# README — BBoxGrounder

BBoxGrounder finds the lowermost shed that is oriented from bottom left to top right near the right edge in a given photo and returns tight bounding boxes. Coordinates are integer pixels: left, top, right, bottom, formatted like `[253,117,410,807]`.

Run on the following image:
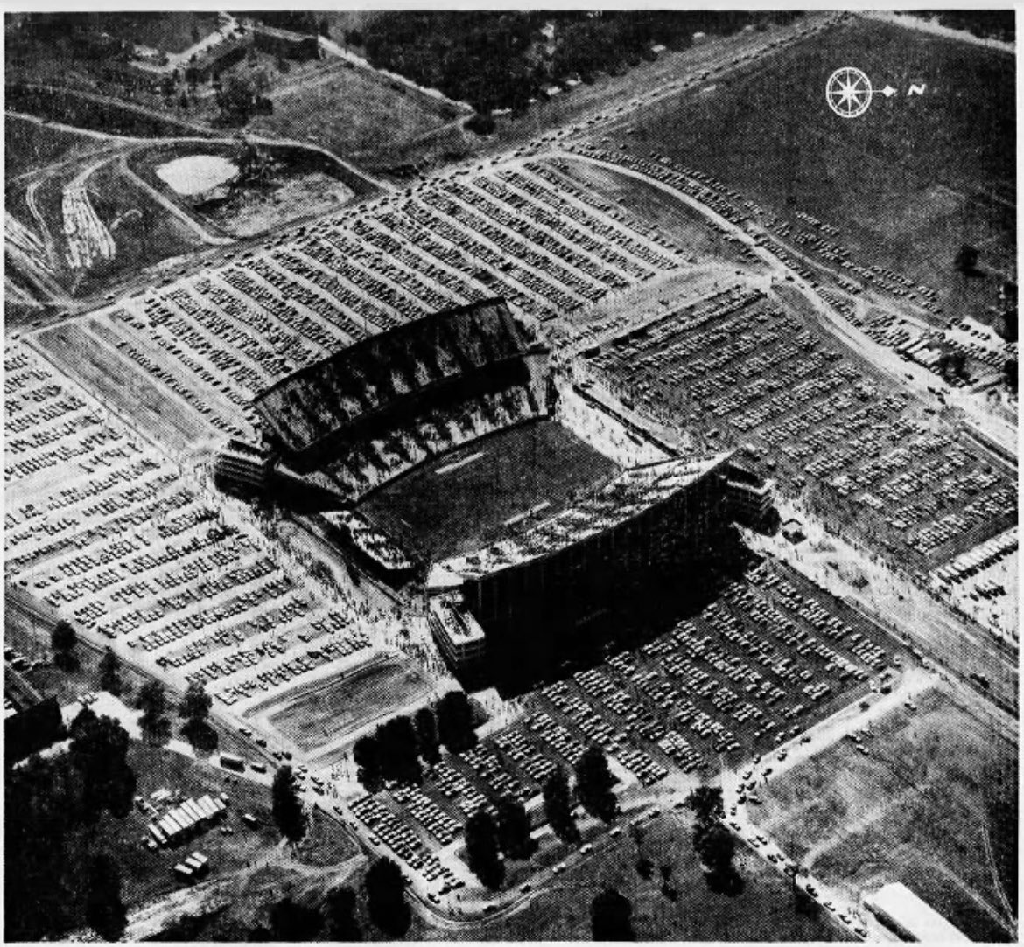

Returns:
[964,366,1000,405]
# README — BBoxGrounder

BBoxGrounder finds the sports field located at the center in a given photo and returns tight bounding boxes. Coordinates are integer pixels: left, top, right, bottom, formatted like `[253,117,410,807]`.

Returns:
[346,414,622,572]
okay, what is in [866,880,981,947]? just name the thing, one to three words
building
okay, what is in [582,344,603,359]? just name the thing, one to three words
vehicle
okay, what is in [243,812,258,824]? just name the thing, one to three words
vehicle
